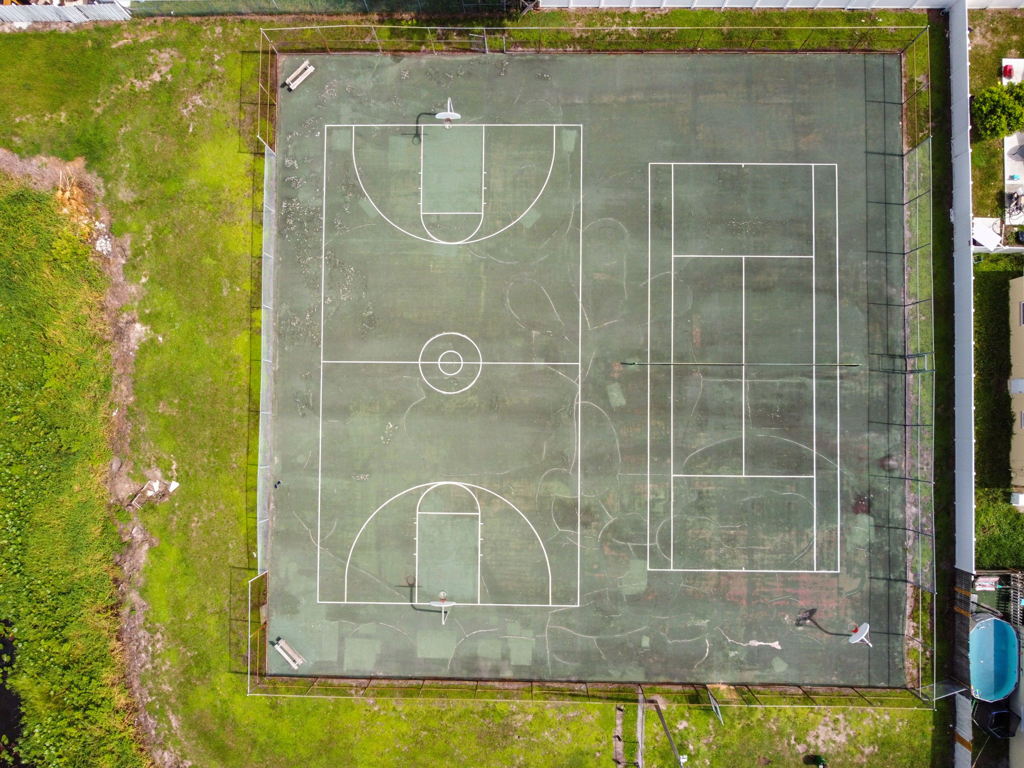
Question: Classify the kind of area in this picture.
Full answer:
It's a sports ground.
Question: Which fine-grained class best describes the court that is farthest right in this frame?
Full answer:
In the photo, the court that is farthest right shows up as a tennis court.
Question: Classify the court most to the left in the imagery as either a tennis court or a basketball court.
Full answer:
The court most to the left can be classified as a basketball court.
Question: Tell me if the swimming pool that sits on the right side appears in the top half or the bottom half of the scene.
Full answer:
Seen from above, the swimming pool that sits on the right side lies in the bottom half of the view.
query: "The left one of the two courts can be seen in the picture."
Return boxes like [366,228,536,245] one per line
[317,124,582,607]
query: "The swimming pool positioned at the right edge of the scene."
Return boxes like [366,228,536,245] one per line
[957,612,1019,702]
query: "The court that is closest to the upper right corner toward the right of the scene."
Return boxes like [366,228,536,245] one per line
[647,163,840,572]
